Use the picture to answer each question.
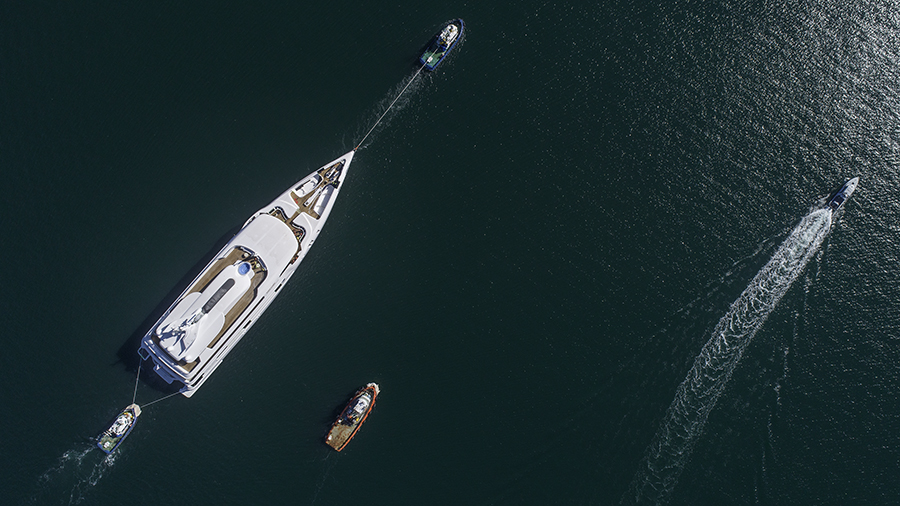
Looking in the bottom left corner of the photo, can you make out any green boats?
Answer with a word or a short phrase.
No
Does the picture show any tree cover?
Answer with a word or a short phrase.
No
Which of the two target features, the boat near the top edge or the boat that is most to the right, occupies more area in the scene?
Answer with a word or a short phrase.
the boat near the top edge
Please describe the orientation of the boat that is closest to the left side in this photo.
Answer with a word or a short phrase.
diagonally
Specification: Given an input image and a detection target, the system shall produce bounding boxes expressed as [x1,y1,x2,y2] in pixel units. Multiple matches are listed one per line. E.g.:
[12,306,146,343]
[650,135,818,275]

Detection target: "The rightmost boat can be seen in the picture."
[827,177,860,211]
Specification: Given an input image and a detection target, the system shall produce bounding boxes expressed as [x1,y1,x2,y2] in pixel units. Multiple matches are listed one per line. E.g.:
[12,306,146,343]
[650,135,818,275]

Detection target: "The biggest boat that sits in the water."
[139,150,355,397]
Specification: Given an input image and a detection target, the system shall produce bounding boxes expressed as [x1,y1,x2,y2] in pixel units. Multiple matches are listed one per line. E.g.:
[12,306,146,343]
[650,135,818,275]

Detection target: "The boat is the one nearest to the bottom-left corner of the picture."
[98,404,139,453]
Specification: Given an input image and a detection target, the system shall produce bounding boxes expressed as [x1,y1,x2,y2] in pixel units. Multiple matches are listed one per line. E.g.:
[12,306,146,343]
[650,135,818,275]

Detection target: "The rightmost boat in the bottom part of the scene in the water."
[326,384,378,452]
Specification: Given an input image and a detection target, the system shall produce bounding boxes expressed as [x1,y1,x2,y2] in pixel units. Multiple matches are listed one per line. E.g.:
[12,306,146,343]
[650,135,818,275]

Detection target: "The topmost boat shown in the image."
[419,18,464,71]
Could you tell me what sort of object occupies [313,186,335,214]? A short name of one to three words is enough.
boat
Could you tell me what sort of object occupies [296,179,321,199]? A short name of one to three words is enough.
boat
